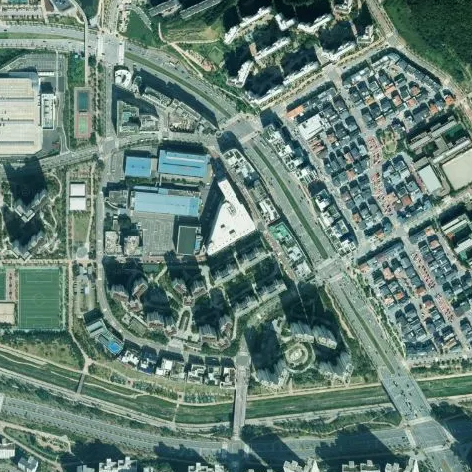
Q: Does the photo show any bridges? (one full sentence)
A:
Yes, a bridge appears in the view.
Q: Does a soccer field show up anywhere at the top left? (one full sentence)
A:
No, at the top left there is no soccer field.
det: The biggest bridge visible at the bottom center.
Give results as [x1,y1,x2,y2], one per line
[233,367,250,438]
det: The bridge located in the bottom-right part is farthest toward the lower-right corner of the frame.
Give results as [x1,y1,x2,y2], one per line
[379,363,433,430]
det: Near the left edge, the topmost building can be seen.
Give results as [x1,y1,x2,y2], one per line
[0,79,42,154]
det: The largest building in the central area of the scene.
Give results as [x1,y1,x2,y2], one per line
[205,177,257,259]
